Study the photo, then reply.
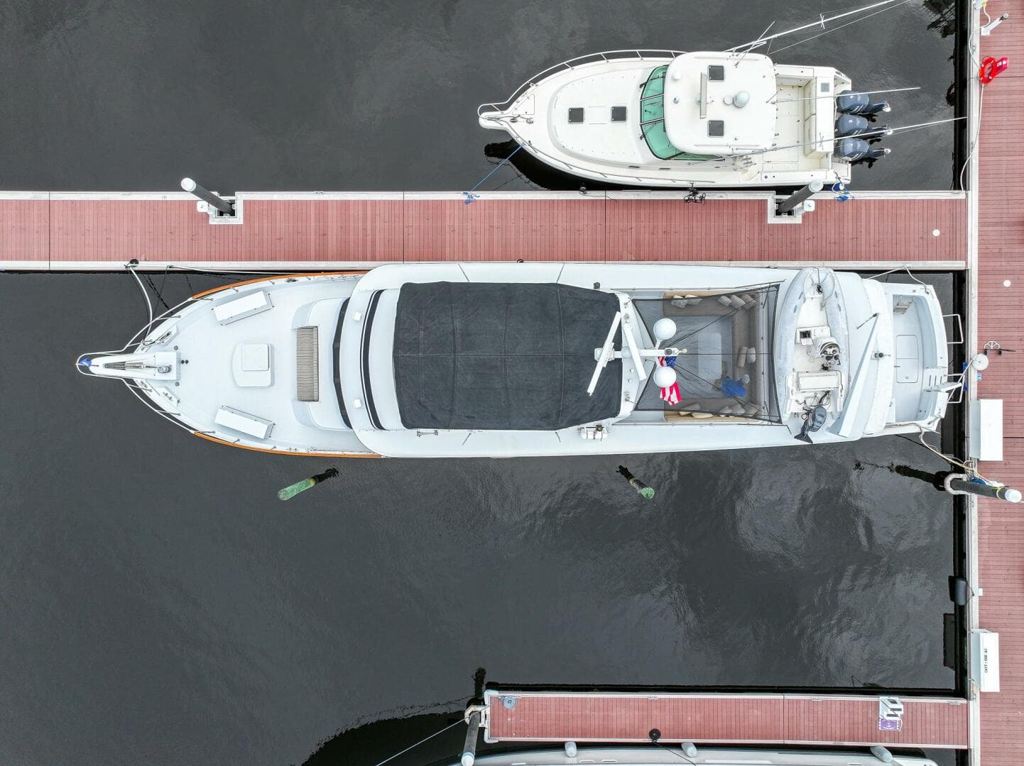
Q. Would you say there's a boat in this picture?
Yes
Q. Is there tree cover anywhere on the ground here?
No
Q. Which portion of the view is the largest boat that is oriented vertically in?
right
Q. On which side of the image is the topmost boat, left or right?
right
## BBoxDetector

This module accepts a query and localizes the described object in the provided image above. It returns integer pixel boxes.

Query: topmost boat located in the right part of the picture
[477,0,967,189]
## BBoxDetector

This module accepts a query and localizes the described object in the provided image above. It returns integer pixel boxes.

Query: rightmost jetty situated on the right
[962,0,1024,766]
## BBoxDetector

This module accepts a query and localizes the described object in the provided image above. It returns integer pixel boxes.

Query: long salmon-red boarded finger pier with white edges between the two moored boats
[0,186,967,271]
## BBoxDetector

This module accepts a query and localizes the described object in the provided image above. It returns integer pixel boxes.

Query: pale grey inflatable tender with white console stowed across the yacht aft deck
[775,267,852,441]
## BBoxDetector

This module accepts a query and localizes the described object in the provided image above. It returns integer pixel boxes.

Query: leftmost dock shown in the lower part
[484,687,968,750]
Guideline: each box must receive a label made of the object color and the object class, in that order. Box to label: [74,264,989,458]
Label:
white boat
